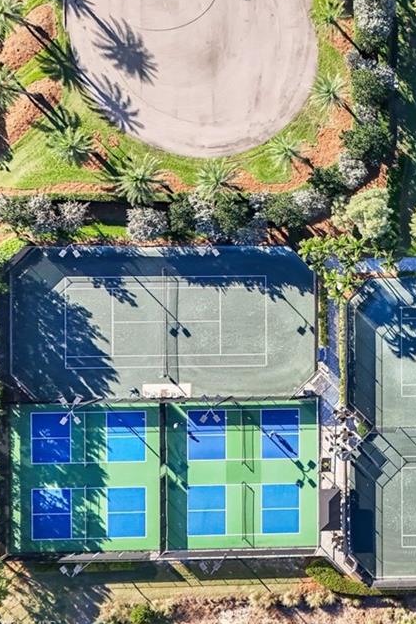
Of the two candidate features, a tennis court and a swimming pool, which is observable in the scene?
tennis court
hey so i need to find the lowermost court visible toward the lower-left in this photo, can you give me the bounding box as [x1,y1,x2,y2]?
[9,475,156,553]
